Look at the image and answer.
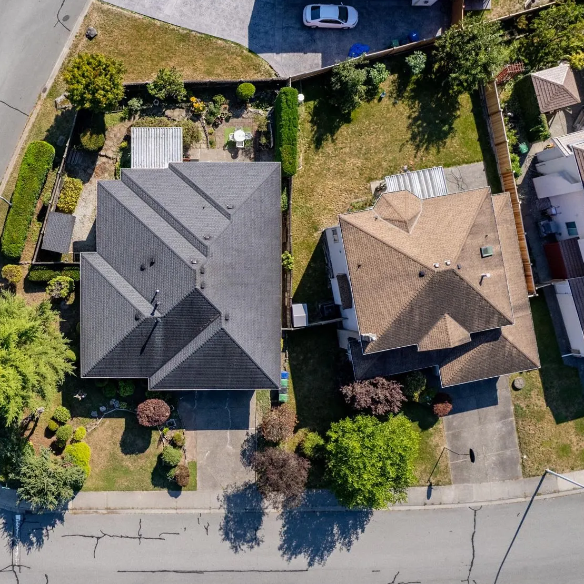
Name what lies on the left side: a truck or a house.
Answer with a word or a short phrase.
house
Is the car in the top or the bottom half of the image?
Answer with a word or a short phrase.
top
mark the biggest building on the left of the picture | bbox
[80,161,282,390]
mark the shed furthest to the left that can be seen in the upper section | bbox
[42,212,75,254]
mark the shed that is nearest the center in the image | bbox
[289,303,312,327]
